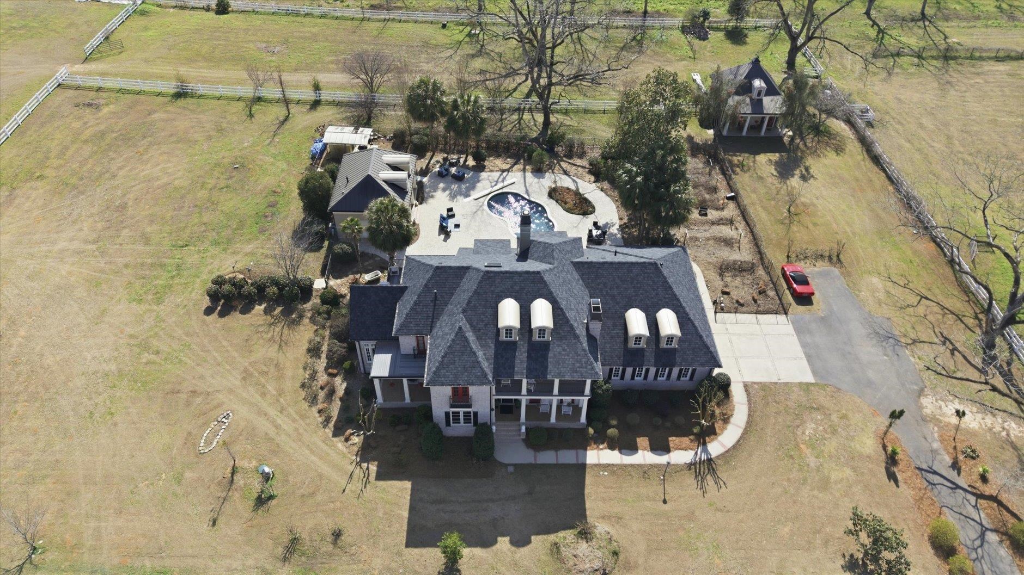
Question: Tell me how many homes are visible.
2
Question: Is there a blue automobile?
No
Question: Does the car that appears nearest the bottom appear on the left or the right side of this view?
right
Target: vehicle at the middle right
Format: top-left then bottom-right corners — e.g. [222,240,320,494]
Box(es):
[783,266,815,298]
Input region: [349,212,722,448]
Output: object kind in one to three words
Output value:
house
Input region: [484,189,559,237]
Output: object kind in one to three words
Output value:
swimming pool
